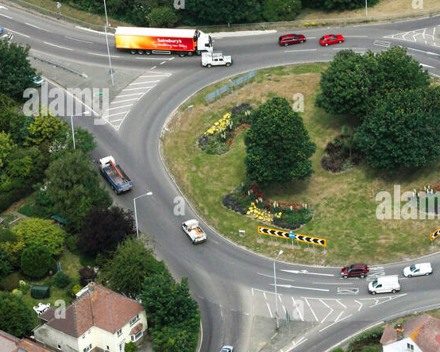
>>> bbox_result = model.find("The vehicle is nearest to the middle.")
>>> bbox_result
[182,219,207,243]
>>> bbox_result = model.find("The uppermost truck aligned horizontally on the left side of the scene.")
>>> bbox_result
[113,23,213,56]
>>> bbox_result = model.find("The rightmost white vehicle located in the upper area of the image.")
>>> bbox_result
[202,50,233,67]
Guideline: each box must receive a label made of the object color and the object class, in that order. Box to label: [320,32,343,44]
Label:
red vehicle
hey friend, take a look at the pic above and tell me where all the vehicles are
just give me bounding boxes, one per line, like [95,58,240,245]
[366,273,402,295]
[320,32,343,44]
[98,150,132,193]
[405,260,433,276]
[340,259,370,276]
[278,31,306,44]
[113,23,213,56]
[182,219,207,243]
[202,50,233,67]
[218,344,233,352]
